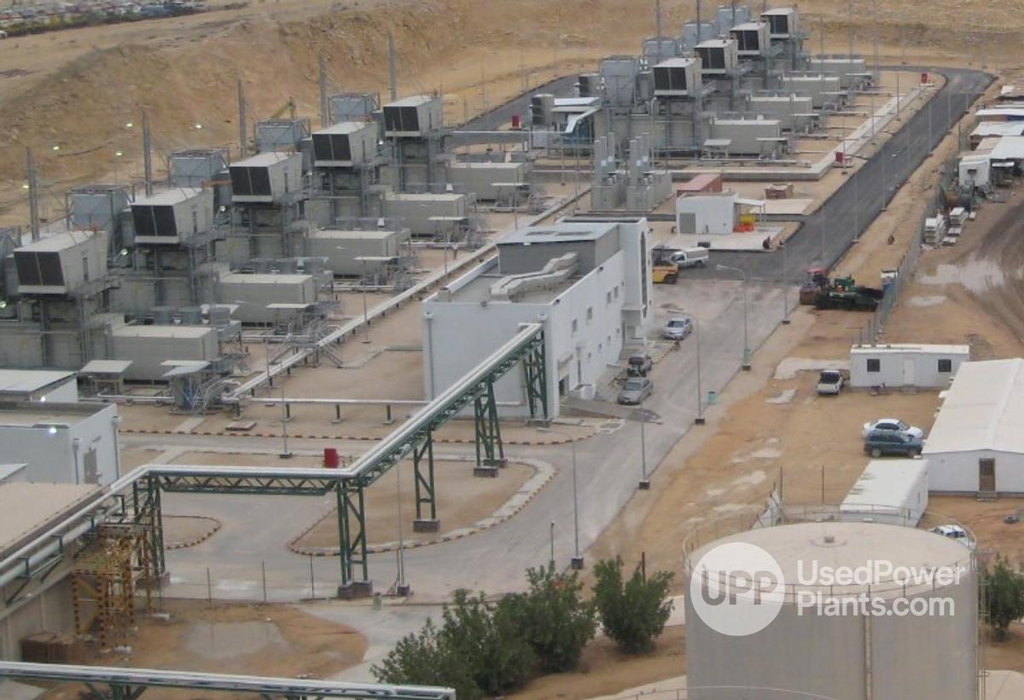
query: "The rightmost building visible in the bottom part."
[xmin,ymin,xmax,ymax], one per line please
[922,361,1024,498]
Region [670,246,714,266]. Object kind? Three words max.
vehicle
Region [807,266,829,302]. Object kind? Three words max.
work vehicle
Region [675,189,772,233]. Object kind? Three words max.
building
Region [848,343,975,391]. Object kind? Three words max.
building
